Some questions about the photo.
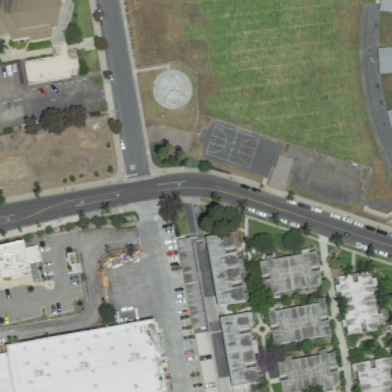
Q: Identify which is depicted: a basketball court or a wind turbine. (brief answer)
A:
basketball court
